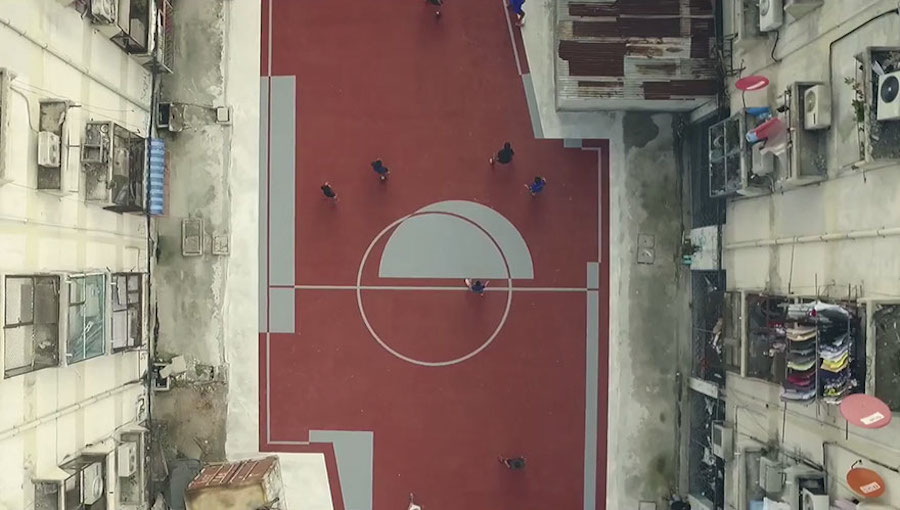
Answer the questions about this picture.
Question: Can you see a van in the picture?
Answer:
No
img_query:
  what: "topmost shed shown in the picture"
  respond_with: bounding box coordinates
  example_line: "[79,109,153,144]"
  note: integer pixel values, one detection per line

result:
[556,0,720,114]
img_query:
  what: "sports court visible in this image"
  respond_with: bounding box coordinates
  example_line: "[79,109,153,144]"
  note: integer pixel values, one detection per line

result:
[258,0,610,510]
